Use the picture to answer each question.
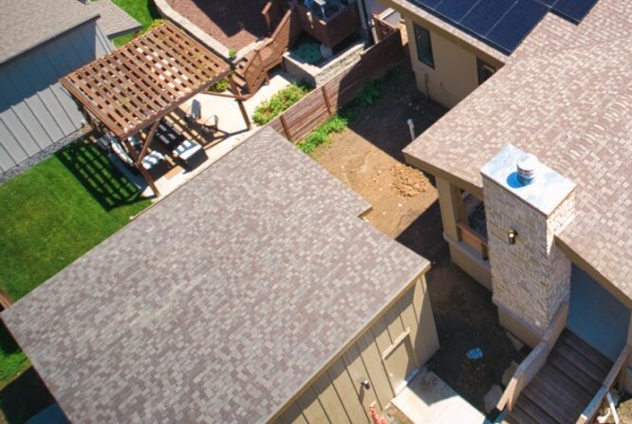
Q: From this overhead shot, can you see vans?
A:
No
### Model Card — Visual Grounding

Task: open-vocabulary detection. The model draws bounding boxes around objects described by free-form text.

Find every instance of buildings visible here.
[0,126,440,424]
[383,0,632,403]
[0,0,160,177]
